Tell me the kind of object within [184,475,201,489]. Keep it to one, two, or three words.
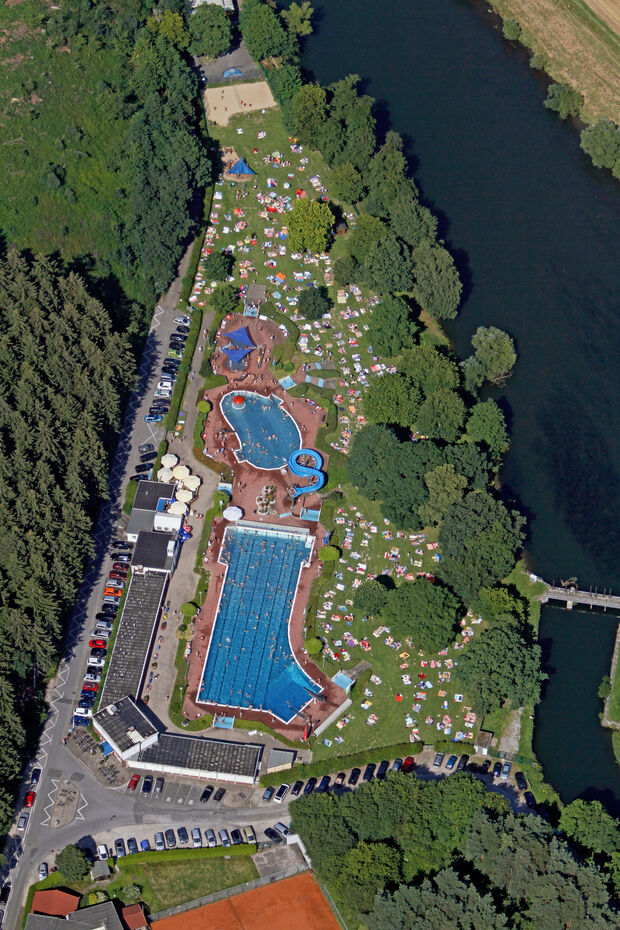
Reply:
umbrella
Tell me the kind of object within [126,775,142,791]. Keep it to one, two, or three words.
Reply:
car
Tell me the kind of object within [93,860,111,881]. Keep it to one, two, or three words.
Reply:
shed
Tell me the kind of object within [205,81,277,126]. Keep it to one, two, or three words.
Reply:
sports court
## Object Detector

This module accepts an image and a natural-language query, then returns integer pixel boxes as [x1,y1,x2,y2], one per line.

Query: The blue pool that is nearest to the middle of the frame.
[219,390,303,470]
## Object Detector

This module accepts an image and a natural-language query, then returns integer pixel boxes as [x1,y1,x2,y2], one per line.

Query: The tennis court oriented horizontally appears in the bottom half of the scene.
[146,871,335,930]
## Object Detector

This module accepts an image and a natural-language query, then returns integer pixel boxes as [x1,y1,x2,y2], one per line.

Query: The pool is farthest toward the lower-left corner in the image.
[193,526,326,726]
